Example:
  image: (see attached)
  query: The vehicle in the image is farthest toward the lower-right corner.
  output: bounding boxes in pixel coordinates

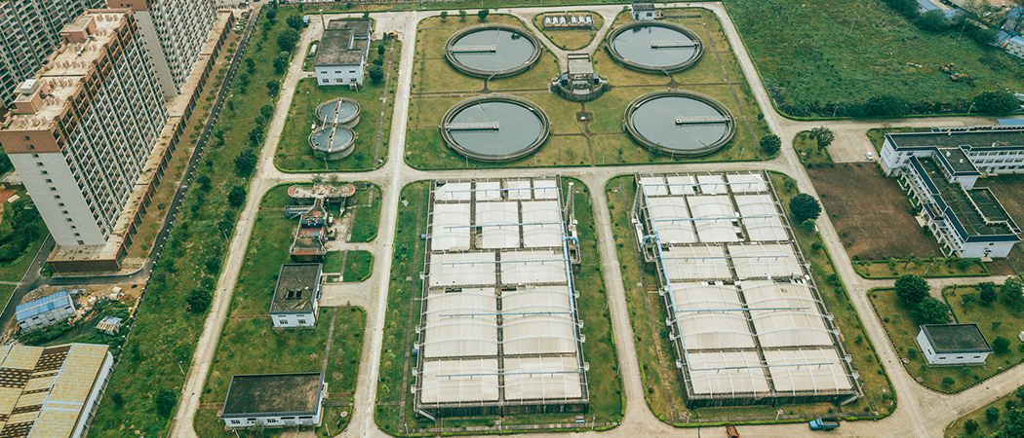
[808,417,843,431]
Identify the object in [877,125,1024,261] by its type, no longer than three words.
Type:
building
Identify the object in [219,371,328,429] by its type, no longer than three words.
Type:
house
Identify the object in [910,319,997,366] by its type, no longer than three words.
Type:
building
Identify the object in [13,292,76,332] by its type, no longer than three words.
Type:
shed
